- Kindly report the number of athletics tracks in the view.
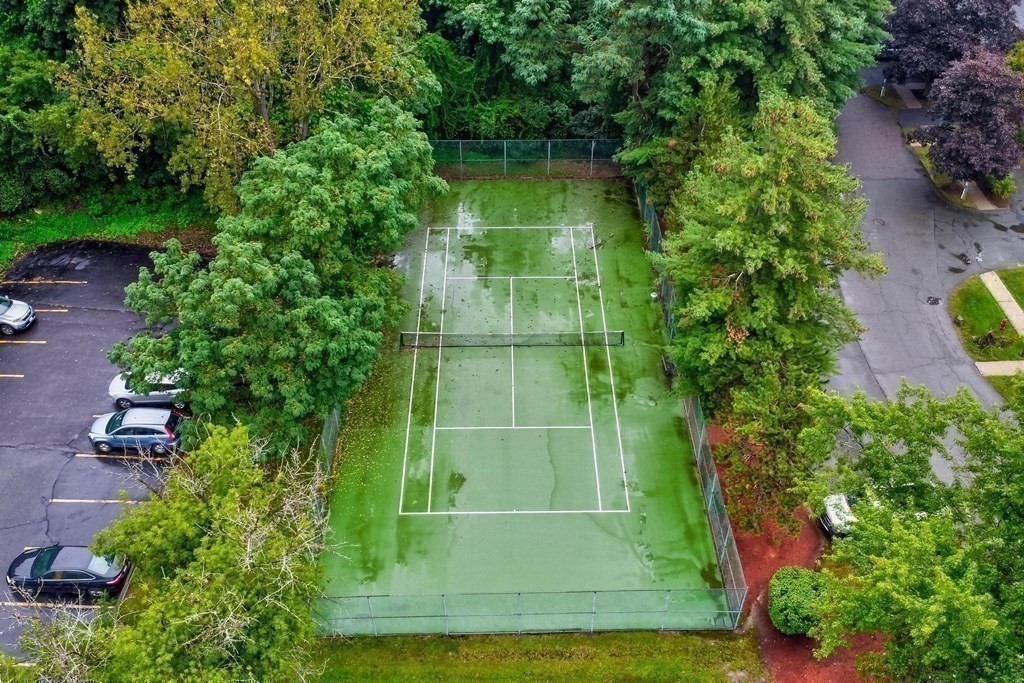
0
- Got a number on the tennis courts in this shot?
1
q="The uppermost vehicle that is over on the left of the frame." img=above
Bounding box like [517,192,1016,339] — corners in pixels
[0,297,39,336]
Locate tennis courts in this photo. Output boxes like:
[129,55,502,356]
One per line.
[304,177,732,634]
